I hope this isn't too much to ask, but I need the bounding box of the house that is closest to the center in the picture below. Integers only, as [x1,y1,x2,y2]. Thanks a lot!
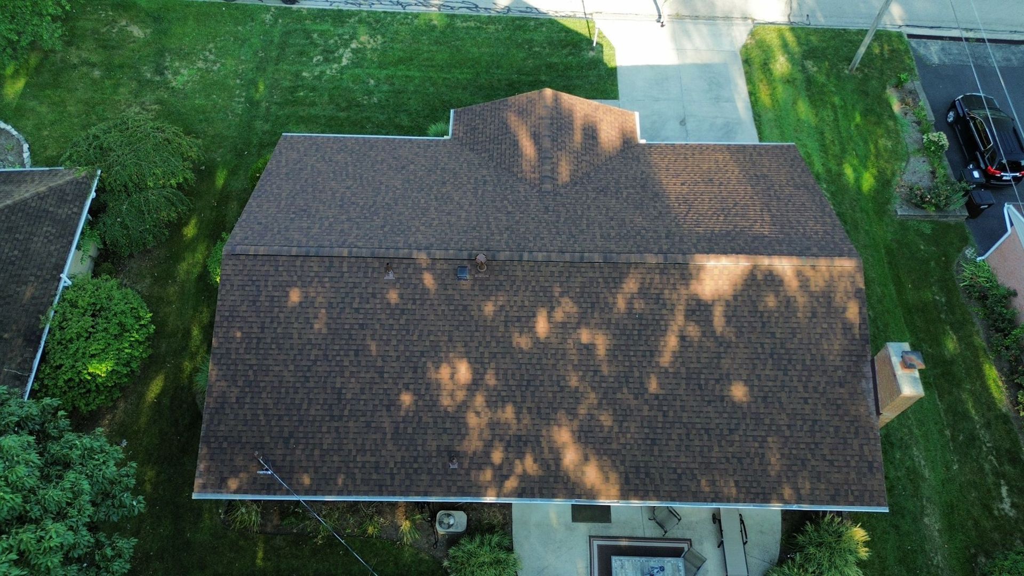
[192,87,926,523]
